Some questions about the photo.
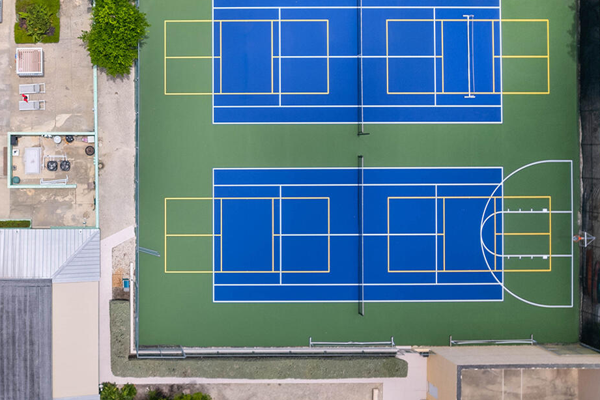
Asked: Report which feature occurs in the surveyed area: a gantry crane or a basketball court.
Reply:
basketball court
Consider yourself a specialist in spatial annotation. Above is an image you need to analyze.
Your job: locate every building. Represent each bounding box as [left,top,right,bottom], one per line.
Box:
[0,228,101,400]
[428,348,600,400]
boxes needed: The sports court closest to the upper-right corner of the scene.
[387,19,550,94]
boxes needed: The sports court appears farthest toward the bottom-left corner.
[165,197,330,273]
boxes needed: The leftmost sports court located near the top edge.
[165,19,330,94]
